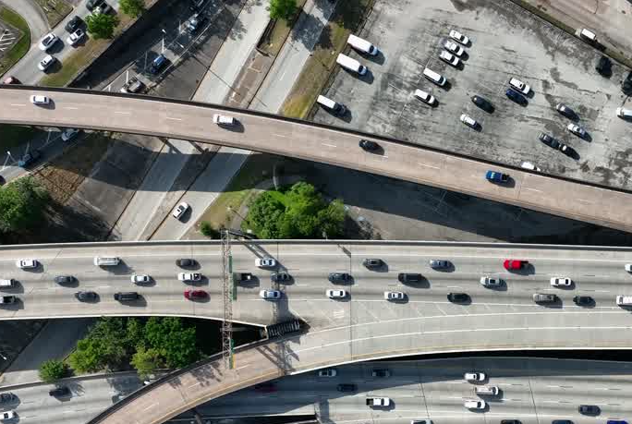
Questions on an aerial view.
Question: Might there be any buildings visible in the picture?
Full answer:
No, there's no building here.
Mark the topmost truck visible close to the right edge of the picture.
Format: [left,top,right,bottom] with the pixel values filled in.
[578,23,603,47]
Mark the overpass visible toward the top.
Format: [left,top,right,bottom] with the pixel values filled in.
[0,83,632,232]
